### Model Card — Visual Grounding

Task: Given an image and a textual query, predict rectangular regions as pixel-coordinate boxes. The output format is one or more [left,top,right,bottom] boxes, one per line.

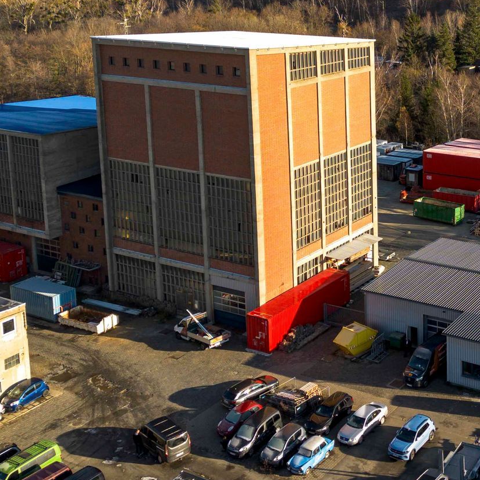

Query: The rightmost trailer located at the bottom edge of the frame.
[442,439,480,480]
